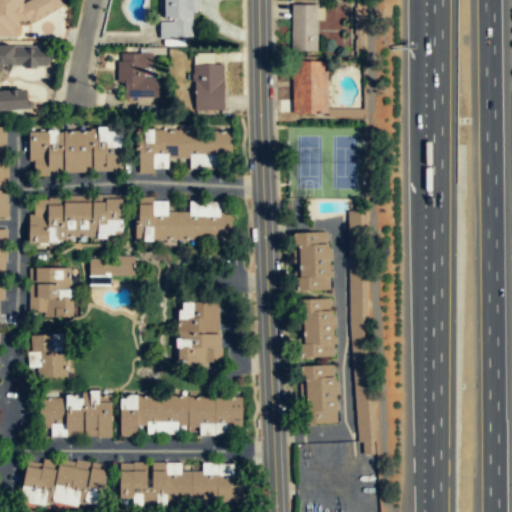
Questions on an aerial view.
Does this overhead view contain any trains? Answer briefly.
No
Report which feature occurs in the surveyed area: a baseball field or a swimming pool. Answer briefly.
swimming pool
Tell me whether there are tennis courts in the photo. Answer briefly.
Yes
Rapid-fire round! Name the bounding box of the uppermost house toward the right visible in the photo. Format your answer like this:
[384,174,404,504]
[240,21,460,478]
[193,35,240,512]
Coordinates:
[293,4,326,52]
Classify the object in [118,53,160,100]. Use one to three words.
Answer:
house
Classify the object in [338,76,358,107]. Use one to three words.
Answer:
swimming pool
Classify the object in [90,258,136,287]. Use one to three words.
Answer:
building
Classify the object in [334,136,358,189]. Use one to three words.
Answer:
tennis court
